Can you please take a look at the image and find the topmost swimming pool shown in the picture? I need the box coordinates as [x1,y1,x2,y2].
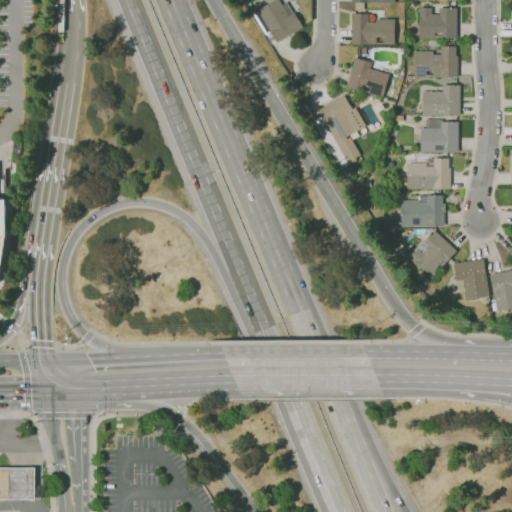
[374,51,399,64]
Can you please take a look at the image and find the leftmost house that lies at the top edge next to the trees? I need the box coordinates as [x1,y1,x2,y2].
[253,0,303,40]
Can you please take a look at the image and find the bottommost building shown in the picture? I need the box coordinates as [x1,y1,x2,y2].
[0,468,35,502]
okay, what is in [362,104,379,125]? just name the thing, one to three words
swimming pool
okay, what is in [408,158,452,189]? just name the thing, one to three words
house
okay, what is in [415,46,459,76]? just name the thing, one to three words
house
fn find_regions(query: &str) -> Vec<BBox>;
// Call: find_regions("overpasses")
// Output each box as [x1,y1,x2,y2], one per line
[204,331,403,412]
